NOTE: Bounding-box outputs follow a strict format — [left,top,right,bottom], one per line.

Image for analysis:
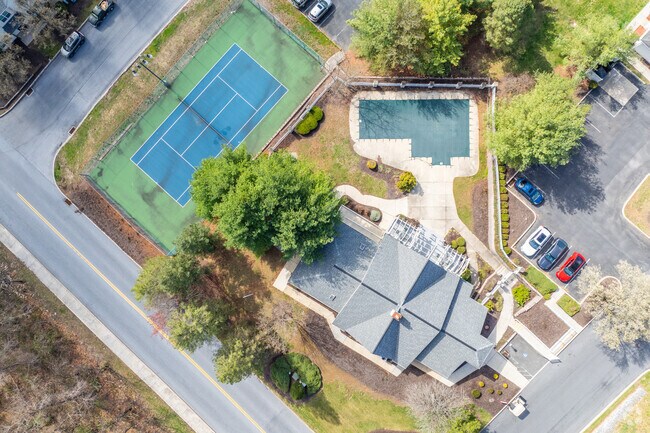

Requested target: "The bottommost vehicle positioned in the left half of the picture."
[54,26,84,58]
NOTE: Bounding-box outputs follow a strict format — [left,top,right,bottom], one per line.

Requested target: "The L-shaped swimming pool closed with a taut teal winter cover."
[355,95,475,170]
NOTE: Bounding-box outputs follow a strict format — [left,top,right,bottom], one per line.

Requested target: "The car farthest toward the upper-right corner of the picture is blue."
[514,175,547,205]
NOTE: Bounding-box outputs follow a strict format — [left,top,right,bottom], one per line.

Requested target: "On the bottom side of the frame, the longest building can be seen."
[289,208,493,385]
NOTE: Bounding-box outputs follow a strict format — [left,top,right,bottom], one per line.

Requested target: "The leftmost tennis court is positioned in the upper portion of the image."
[86,1,324,255]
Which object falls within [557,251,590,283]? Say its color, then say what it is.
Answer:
red car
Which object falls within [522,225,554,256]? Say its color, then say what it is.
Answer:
white car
